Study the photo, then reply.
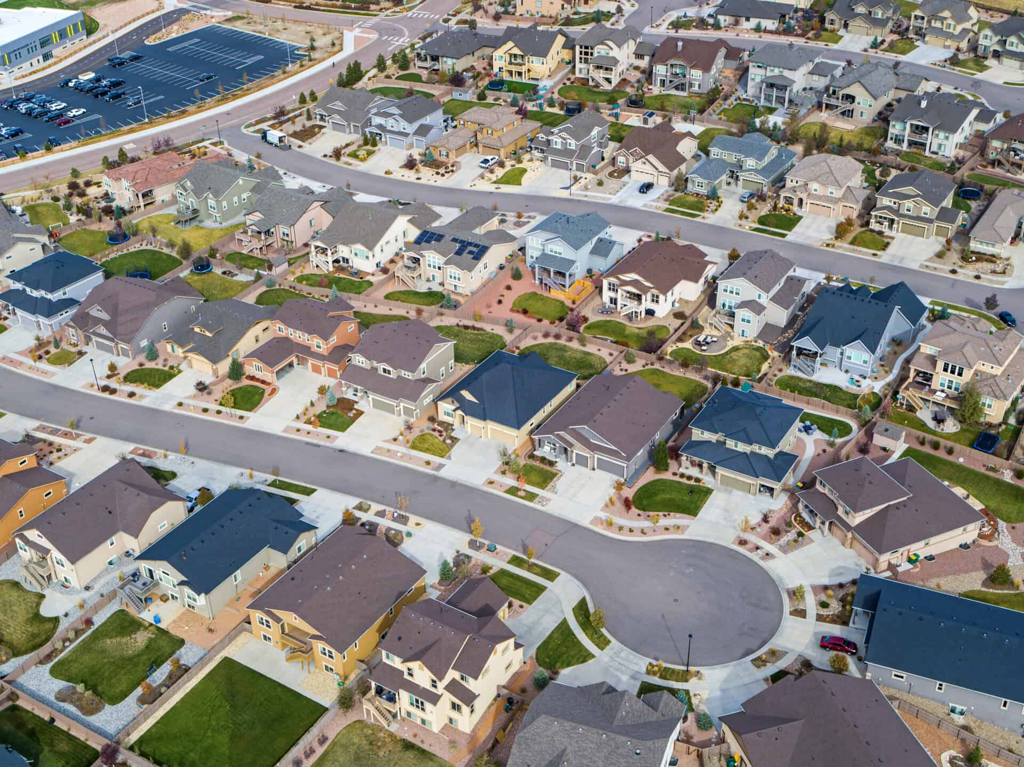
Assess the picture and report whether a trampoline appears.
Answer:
Yes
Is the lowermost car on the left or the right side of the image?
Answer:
right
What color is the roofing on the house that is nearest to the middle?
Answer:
blue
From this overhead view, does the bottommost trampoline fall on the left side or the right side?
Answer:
right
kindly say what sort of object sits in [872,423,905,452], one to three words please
shed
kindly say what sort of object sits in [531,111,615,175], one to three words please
house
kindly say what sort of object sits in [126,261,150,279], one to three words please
trampoline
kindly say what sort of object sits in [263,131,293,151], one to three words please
vehicle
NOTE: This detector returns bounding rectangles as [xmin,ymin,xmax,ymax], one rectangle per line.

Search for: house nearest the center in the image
[435,350,581,445]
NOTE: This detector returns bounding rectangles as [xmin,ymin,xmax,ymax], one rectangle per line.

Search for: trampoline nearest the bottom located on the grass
[966,432,1009,454]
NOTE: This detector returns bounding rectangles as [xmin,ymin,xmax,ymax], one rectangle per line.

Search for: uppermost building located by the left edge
[0,6,87,76]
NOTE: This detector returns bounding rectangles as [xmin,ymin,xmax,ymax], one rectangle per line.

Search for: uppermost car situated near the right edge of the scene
[996,306,1020,325]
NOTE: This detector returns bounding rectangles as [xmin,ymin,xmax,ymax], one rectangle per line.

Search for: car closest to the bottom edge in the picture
[820,636,858,656]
